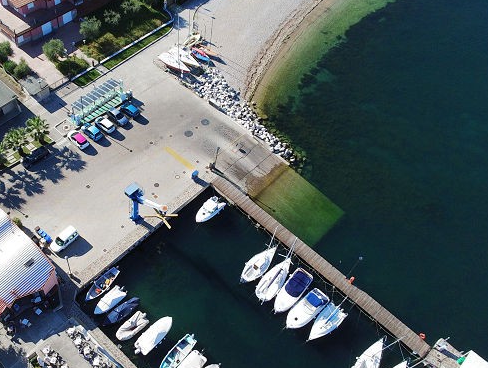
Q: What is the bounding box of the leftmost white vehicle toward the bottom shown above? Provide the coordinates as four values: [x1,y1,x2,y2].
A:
[48,222,80,254]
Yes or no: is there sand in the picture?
Yes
